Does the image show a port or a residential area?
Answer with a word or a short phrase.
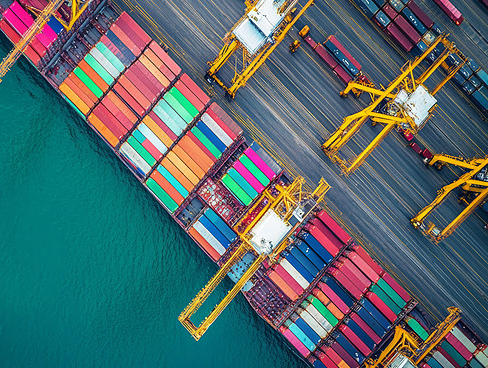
port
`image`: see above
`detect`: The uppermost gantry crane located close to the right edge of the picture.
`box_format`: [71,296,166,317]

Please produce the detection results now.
[322,30,474,175]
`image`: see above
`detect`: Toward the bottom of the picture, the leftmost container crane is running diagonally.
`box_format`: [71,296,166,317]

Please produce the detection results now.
[176,174,333,342]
